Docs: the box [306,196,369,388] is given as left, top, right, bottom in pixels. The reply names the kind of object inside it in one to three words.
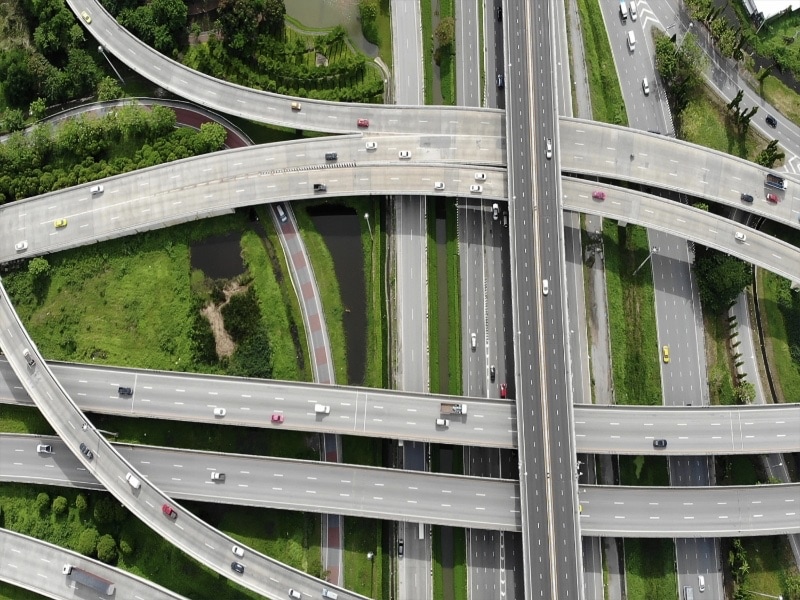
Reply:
pond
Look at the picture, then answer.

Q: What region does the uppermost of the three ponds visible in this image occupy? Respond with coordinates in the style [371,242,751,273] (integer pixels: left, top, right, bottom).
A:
[284,0,380,59]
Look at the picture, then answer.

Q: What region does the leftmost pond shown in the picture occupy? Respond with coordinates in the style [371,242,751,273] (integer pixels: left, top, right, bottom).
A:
[189,231,246,284]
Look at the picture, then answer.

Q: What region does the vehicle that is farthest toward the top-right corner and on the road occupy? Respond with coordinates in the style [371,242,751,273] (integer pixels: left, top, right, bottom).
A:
[764,115,778,127]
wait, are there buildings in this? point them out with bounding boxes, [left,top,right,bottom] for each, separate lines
[314,52,327,69]
[738,0,800,23]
